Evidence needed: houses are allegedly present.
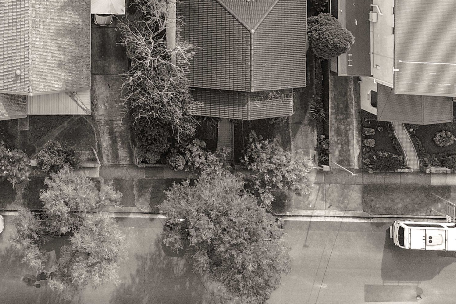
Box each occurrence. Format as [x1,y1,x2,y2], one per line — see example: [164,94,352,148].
[0,0,93,120]
[169,0,309,121]
[355,0,456,125]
